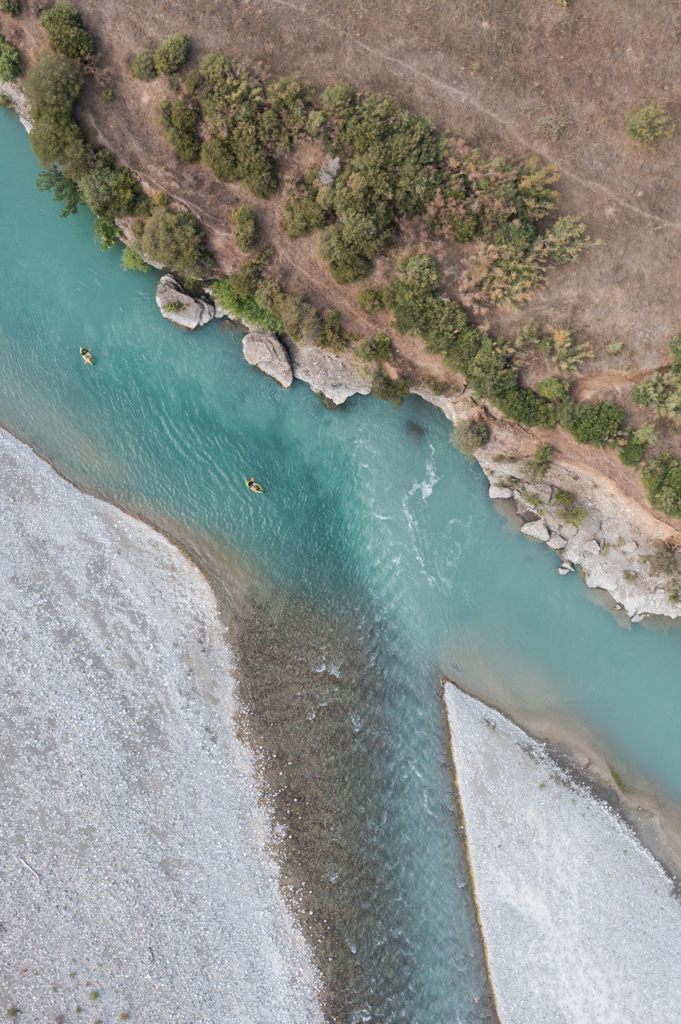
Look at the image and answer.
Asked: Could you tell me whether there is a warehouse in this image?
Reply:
No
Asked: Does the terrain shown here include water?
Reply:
Yes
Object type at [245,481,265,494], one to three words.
boat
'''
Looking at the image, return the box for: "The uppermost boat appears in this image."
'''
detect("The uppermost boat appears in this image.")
[79,346,94,365]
